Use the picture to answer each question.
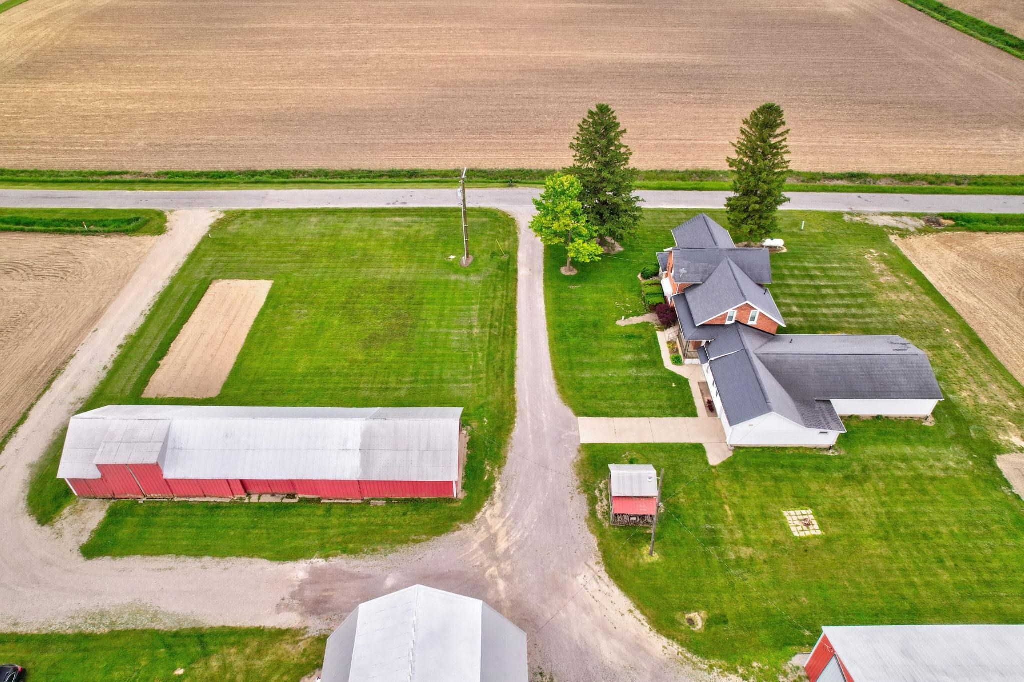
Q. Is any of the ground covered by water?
No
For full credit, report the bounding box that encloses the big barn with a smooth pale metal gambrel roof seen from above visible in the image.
[319,585,529,682]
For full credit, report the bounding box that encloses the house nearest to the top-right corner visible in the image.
[655,214,944,453]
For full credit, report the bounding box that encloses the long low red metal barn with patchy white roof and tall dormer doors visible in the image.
[54,405,465,500]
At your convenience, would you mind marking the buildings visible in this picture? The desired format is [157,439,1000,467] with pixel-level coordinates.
[805,627,1024,682]
[655,214,944,453]
[606,464,658,527]
[54,405,465,500]
[319,585,529,682]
